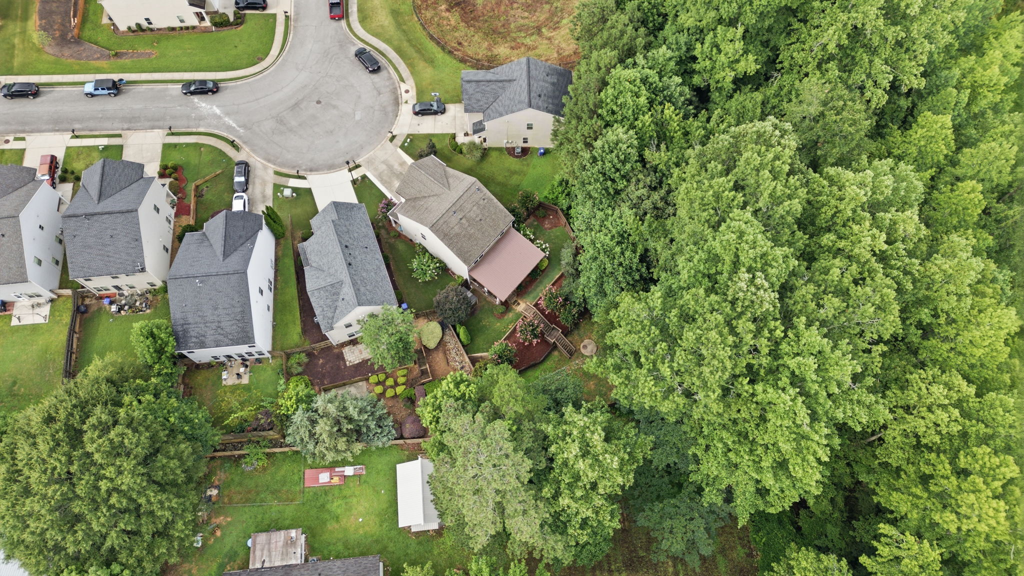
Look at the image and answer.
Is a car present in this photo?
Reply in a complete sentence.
Yes, a car appears in the view.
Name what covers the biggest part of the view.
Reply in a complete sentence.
The bulk of the photo consists of trees.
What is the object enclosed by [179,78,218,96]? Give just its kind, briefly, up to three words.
car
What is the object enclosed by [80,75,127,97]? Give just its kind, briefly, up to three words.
car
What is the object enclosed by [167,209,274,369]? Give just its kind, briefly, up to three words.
house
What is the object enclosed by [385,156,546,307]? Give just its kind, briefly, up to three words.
house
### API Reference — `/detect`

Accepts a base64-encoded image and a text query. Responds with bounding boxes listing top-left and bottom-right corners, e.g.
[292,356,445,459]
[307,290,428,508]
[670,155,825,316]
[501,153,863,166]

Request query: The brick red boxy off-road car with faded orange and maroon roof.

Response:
[35,153,62,186]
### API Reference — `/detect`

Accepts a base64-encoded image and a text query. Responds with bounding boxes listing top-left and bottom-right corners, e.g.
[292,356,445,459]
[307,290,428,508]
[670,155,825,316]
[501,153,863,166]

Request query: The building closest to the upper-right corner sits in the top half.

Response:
[461,56,574,147]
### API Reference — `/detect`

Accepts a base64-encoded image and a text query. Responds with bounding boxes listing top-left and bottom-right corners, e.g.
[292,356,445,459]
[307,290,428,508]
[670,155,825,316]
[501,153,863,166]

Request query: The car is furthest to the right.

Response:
[409,99,446,117]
